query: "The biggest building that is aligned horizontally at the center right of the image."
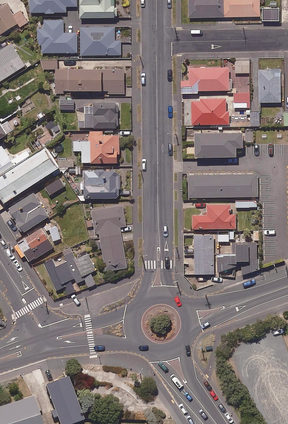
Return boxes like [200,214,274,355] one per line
[188,173,260,198]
